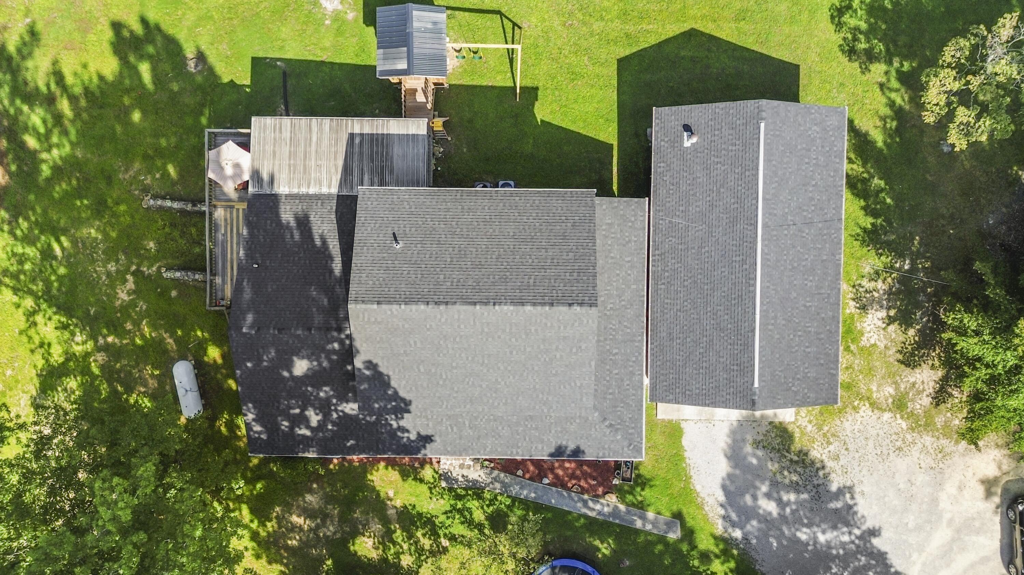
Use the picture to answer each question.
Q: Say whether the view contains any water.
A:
No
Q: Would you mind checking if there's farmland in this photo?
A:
No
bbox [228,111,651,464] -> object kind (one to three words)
house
